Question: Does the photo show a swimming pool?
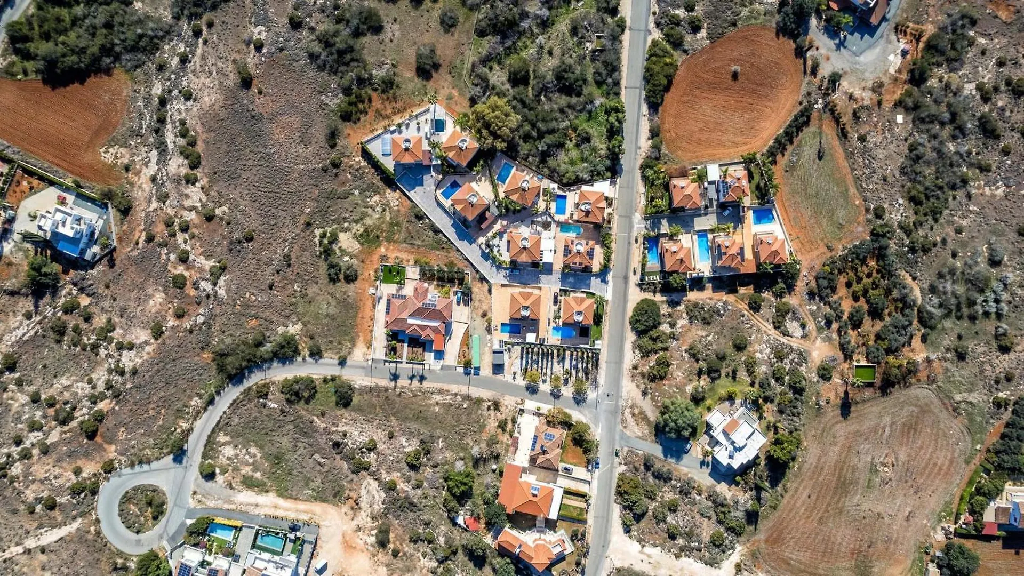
Yes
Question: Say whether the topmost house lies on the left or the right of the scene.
right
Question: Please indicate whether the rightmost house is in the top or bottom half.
bottom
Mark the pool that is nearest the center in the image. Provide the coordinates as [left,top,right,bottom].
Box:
[500,323,521,335]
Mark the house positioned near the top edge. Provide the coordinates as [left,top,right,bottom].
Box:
[827,0,890,29]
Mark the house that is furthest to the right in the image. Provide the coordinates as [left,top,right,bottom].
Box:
[978,488,1024,535]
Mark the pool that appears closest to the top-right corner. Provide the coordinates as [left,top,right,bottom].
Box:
[751,207,777,226]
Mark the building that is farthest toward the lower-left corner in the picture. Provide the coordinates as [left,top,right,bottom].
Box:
[174,541,211,576]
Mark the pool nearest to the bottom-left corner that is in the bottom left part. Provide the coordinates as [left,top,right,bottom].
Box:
[206,524,236,542]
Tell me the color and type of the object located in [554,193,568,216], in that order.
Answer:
blue swimming pool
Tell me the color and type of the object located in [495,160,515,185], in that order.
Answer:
blue swimming pool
